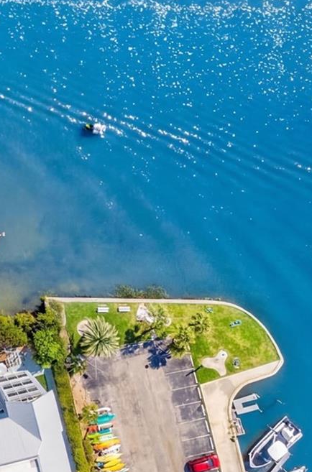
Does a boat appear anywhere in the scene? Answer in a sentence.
Yes, you can see a boat in this photo.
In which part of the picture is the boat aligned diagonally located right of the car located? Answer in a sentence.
The boat aligned diagonally located right of the car sits in the bottom right section of the image.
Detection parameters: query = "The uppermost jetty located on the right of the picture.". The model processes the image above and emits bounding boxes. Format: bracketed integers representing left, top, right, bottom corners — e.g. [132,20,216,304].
[233,393,263,415]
